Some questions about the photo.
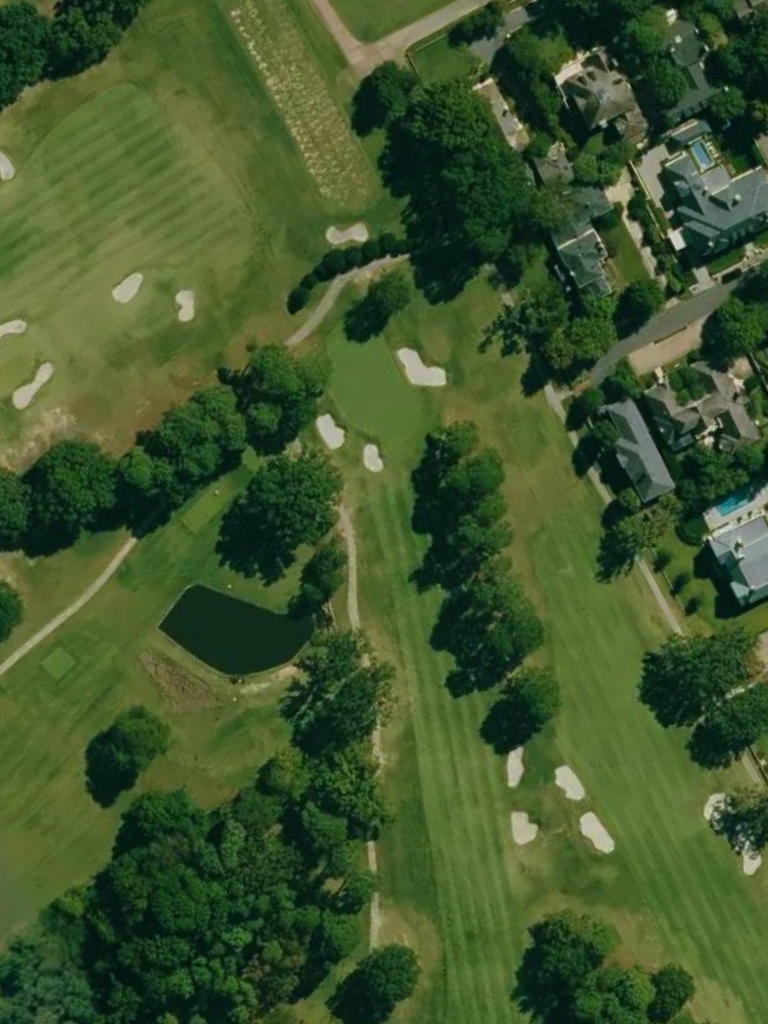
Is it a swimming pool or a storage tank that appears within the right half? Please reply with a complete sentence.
It is a swimming pool that can be seen within the right half.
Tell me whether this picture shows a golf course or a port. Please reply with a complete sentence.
The area seen from above is a golf course.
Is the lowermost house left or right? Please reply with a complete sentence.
The lowermost house appears in the right half of the scene.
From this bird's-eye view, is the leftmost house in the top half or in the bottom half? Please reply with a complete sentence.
It is in the top half that the leftmost house appears.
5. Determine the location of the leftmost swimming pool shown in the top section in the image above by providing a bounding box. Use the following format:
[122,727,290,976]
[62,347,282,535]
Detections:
[690,138,714,169]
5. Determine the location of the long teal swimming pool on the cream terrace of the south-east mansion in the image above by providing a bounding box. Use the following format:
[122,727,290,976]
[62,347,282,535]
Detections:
[717,492,753,516]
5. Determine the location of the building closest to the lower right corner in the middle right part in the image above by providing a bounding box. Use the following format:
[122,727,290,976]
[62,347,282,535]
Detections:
[707,506,768,605]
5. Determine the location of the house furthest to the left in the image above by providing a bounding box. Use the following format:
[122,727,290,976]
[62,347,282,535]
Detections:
[484,76,529,149]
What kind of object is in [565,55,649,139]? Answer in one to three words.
house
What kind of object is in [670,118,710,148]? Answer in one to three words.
building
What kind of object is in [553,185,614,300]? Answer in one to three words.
house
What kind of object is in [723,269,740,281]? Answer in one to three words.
vehicle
